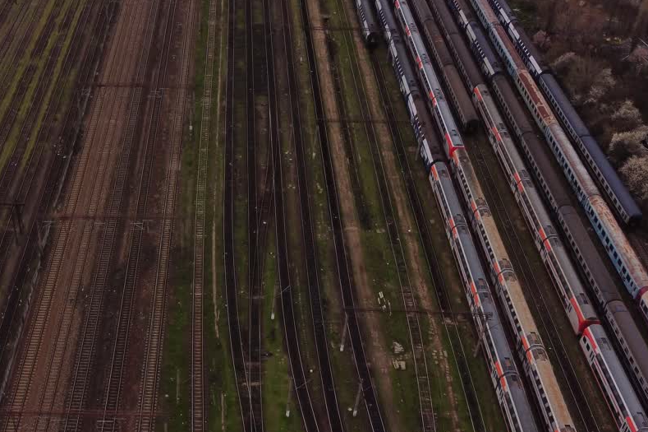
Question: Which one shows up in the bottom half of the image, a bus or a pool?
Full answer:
What appears in the bottom half of the image is a bus.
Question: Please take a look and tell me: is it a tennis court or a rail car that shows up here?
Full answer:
I can see a rail car in this picture.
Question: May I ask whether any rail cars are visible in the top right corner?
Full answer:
Yes, a rail car is visible in the top right corner.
